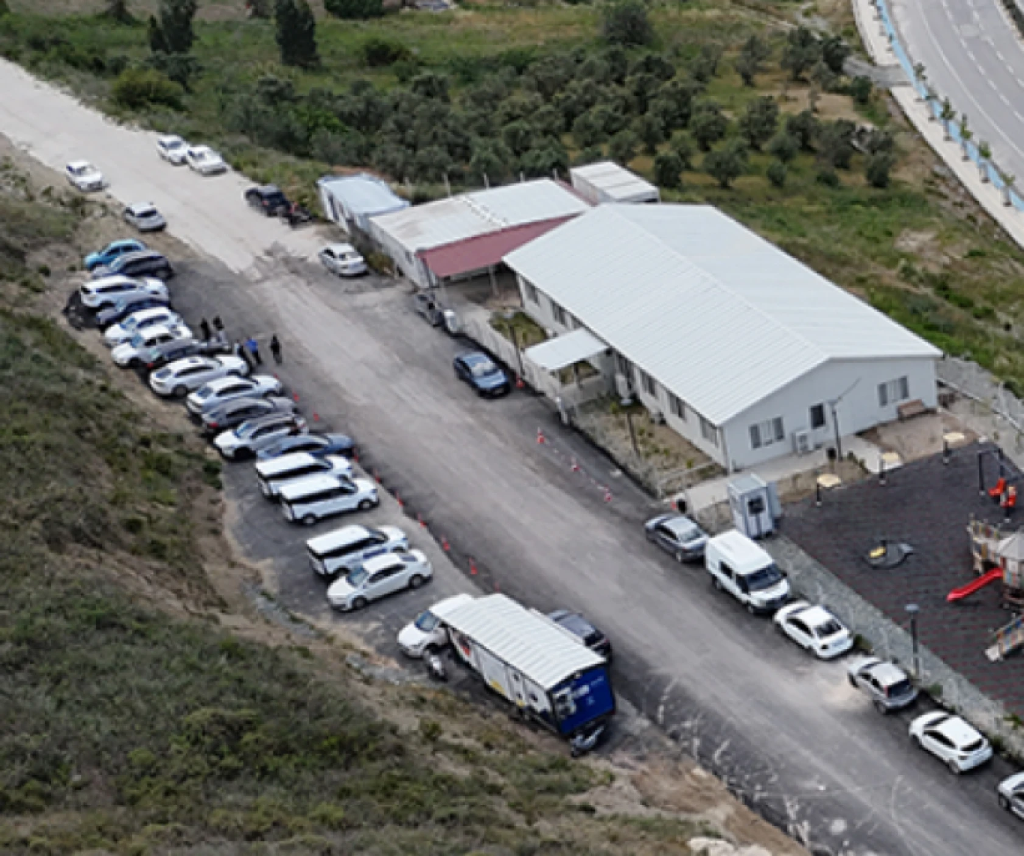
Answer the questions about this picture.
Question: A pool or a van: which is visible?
van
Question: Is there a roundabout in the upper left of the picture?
No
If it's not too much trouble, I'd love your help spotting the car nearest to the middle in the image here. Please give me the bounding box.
[448,357,516,403]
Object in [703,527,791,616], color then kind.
white van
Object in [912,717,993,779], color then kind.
white car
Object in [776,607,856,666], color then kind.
white car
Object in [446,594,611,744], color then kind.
white trailer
